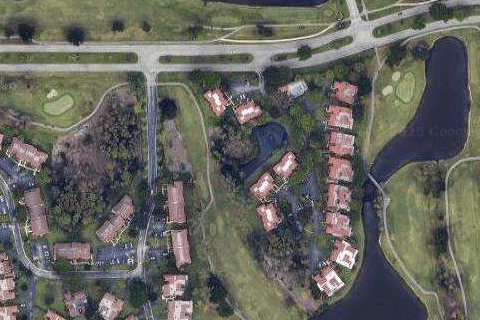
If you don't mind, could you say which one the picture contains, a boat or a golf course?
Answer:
golf course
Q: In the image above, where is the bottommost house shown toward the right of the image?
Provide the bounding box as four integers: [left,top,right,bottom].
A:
[312,264,346,298]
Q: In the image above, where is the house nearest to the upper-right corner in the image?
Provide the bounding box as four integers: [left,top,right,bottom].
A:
[332,79,359,103]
